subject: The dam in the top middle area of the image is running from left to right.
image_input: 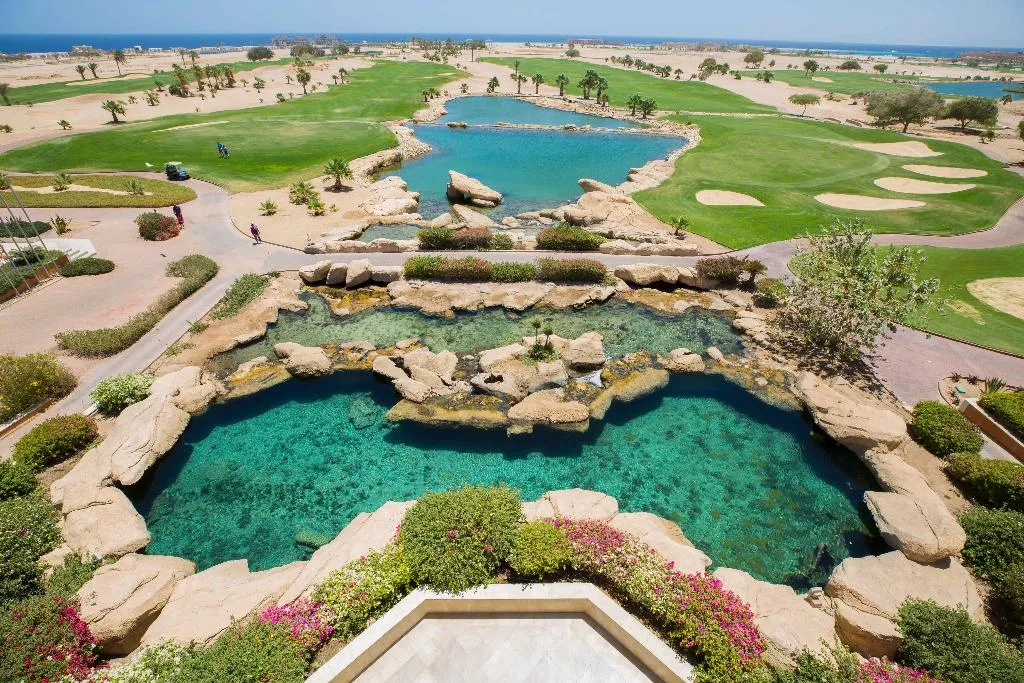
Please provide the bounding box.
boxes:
[411,122,650,137]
